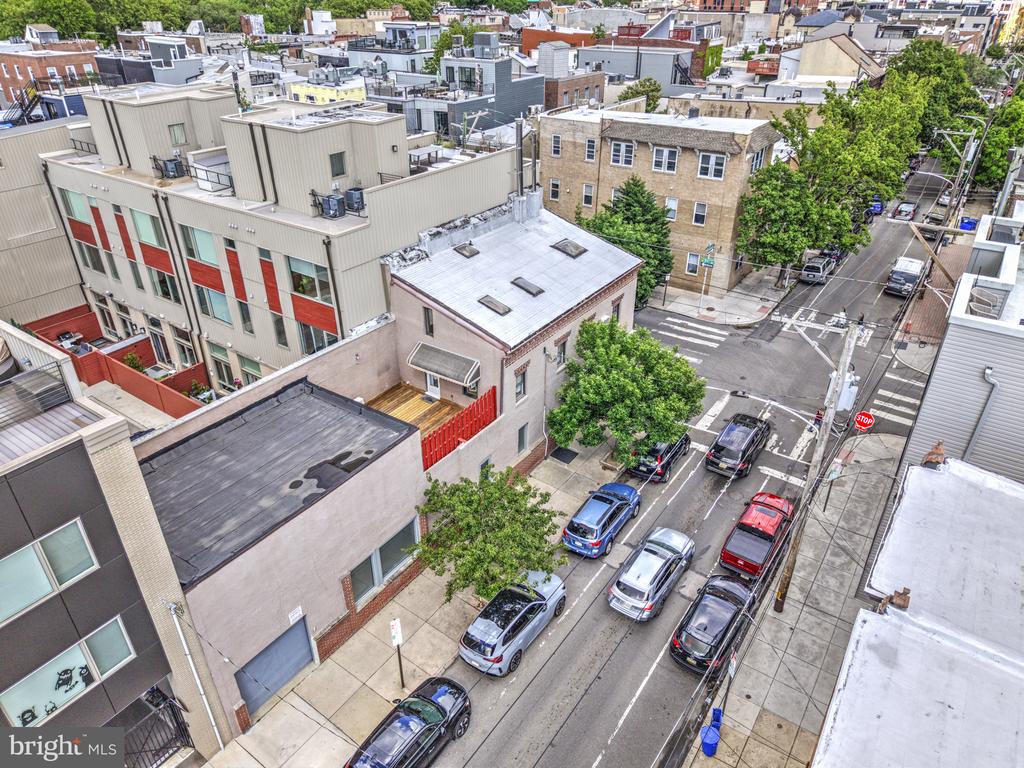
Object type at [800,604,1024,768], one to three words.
house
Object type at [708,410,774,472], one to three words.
car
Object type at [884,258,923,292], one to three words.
car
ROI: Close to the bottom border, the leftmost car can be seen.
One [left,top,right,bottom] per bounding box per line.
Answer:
[335,678,468,768]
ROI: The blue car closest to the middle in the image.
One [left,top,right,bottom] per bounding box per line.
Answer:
[560,480,642,558]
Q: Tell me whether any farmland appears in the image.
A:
No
